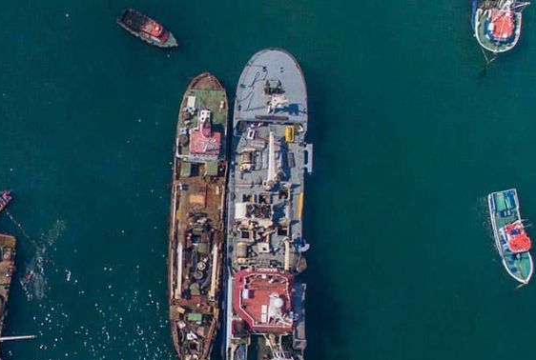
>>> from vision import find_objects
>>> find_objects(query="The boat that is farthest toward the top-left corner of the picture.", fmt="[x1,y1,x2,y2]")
[117,9,178,49]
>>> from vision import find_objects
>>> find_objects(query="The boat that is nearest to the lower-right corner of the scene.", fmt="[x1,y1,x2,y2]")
[489,191,533,291]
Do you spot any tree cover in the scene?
No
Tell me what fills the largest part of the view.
water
